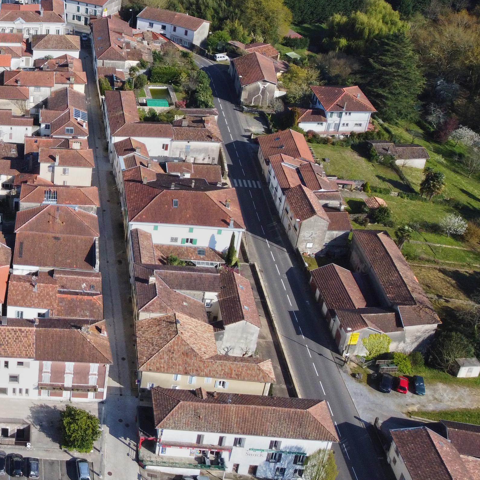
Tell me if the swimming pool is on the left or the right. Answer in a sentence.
The swimming pool sits on the left side.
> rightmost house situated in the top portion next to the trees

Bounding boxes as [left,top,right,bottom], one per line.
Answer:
[393,142,433,172]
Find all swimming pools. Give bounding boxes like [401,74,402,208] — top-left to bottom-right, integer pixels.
[143,85,177,108]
